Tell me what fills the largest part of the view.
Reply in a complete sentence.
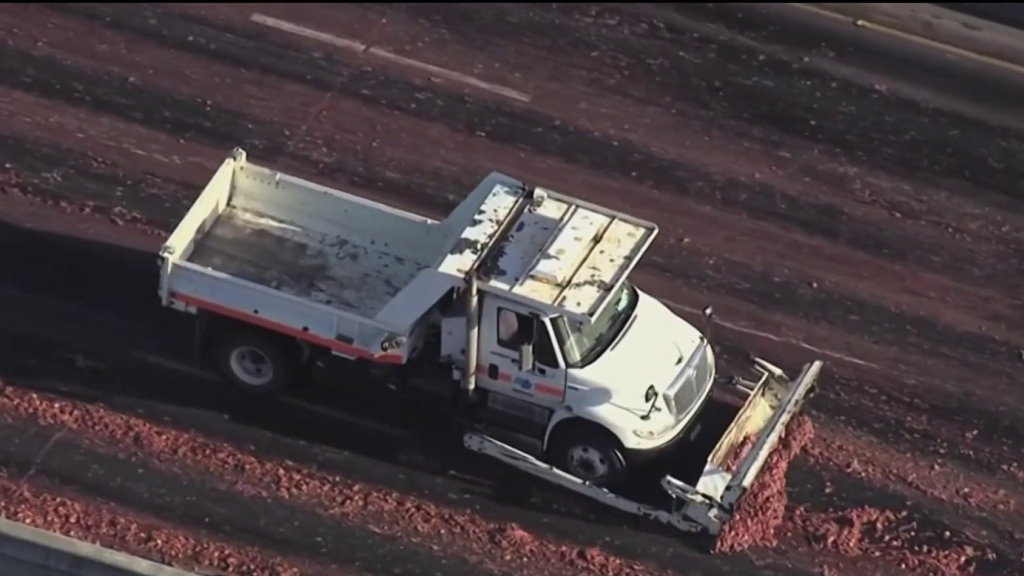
For the most part, this view shows paved ground.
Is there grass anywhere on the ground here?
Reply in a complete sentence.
No, the scene doesn't show any grass.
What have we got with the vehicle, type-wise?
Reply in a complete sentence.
The vehicle is a truck.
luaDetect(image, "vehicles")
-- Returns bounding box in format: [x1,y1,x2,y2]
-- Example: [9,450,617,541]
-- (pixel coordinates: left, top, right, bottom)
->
[156,146,832,547]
